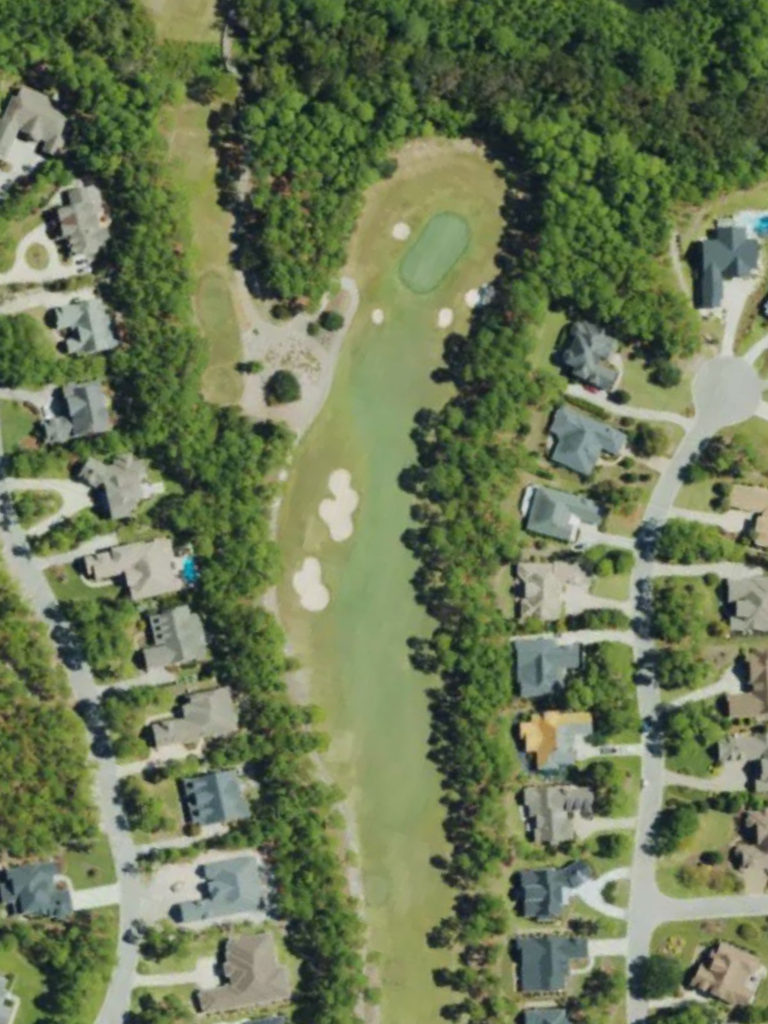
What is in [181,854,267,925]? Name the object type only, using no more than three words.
house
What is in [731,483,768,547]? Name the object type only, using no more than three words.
house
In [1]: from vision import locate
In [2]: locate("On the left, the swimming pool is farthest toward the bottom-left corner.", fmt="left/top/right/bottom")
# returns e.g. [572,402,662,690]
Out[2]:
[176,550,197,585]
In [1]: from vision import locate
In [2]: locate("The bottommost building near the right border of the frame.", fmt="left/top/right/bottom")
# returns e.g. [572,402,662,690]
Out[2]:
[689,941,762,1008]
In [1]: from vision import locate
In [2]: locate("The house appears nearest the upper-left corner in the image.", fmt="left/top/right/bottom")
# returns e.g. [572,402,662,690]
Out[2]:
[0,85,74,162]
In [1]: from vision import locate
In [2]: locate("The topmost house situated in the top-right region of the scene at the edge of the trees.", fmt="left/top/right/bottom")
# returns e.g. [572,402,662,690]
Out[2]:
[700,226,759,307]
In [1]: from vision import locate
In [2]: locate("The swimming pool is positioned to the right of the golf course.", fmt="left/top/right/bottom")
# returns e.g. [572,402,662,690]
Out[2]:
[733,209,768,240]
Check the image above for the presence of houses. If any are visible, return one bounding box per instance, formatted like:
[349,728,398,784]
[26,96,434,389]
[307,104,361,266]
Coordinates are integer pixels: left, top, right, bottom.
[203,932,295,1013]
[731,483,768,547]
[523,1009,567,1024]
[551,405,629,475]
[0,85,74,162]
[517,864,586,919]
[517,934,588,991]
[700,226,759,307]
[519,485,604,542]
[689,941,762,1008]
[516,639,579,698]
[47,382,111,444]
[181,854,267,925]
[152,683,241,750]
[719,736,768,795]
[0,982,16,1024]
[54,296,122,355]
[184,771,252,826]
[56,184,117,260]
[144,607,213,673]
[518,785,594,845]
[558,319,623,391]
[520,711,592,767]
[736,811,768,868]
[0,863,75,917]
[728,580,768,633]
[83,539,184,601]
[72,456,151,520]
[516,561,591,622]
[728,650,768,718]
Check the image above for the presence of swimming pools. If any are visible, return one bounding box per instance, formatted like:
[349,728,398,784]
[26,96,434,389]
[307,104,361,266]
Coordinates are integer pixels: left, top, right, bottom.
[176,550,197,585]
[733,209,768,240]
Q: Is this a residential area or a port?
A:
residential area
